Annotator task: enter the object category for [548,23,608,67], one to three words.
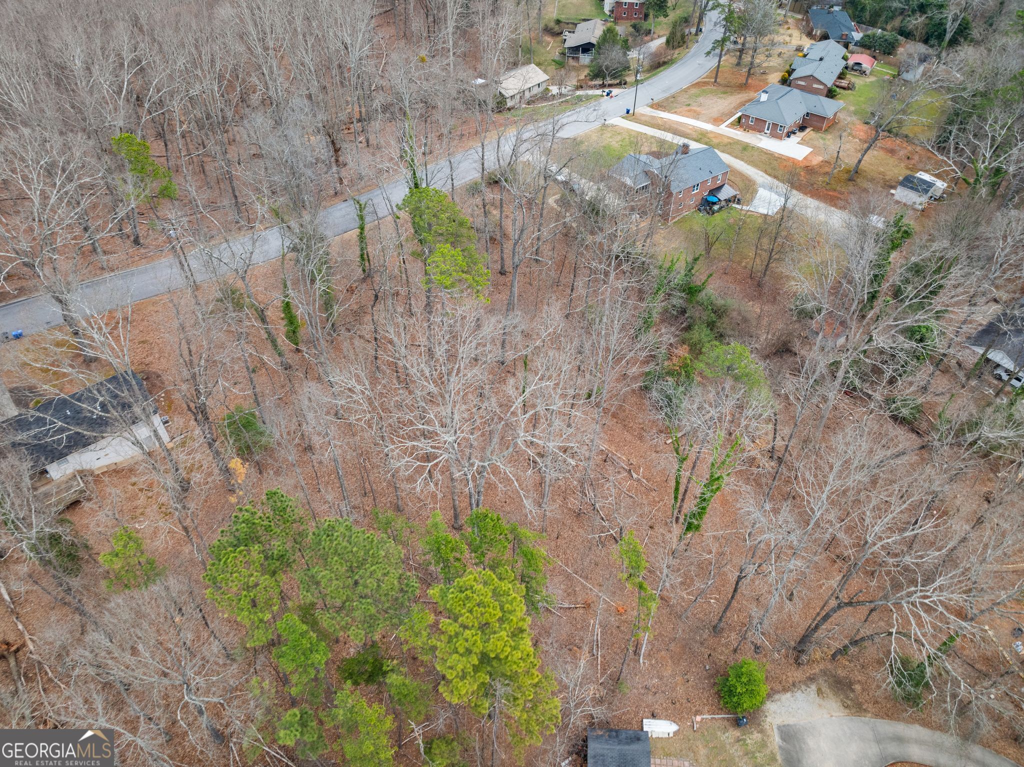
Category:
house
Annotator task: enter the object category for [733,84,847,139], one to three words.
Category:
house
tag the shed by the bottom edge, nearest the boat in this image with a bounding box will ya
[588,727,657,767]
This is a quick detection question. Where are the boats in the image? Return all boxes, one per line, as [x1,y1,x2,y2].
[643,715,680,733]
